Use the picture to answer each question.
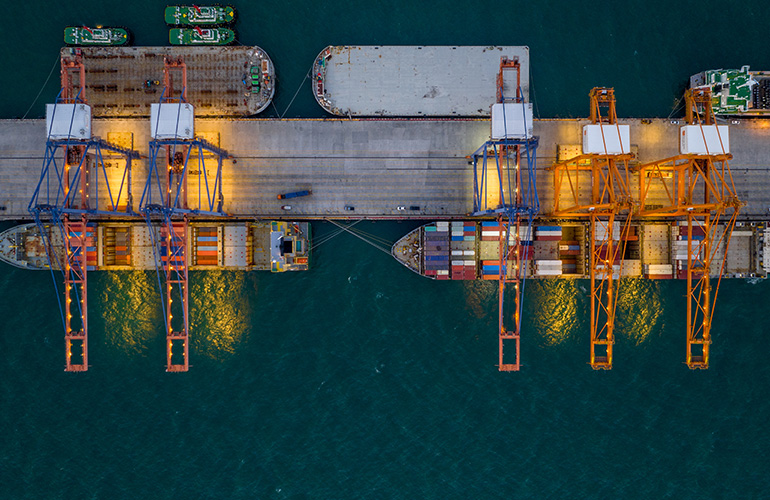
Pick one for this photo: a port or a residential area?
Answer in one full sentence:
This image shows a port.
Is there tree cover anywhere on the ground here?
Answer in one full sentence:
No, there is no tree cover in the image.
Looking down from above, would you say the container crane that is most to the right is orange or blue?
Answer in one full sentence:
In this view, the container crane that is most to the right is orange.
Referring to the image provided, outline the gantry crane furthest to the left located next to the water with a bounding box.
[26,60,140,372]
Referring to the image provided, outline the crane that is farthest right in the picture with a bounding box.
[632,80,750,373]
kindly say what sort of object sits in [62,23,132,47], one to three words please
boat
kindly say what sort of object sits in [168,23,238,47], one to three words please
boat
